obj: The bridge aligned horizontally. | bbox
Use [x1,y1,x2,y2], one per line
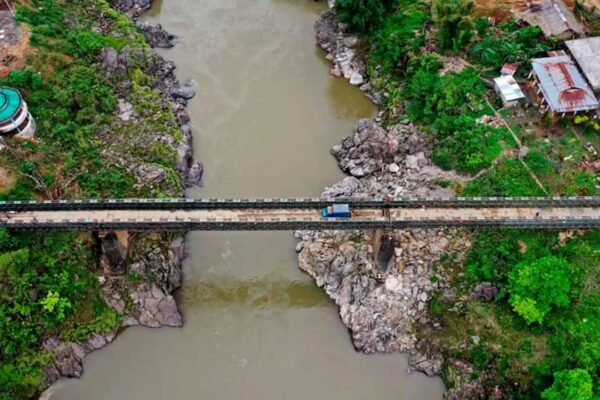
[0,196,600,273]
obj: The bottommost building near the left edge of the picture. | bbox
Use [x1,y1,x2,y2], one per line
[0,87,35,145]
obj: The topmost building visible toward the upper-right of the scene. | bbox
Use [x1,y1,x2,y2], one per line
[522,0,591,43]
